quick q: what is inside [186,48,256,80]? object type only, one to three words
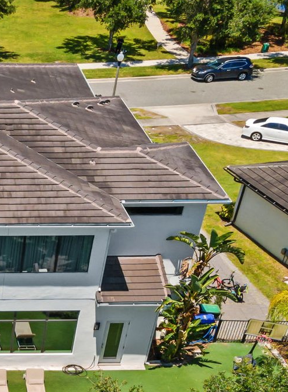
car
